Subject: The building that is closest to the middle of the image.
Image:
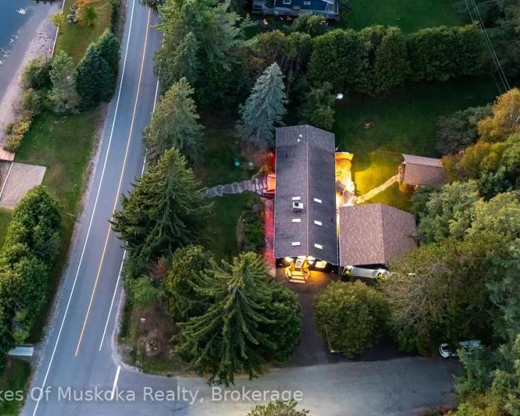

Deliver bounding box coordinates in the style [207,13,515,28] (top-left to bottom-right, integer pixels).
[251,122,341,290]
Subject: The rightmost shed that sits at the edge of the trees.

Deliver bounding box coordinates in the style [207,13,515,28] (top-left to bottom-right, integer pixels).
[390,151,452,190]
